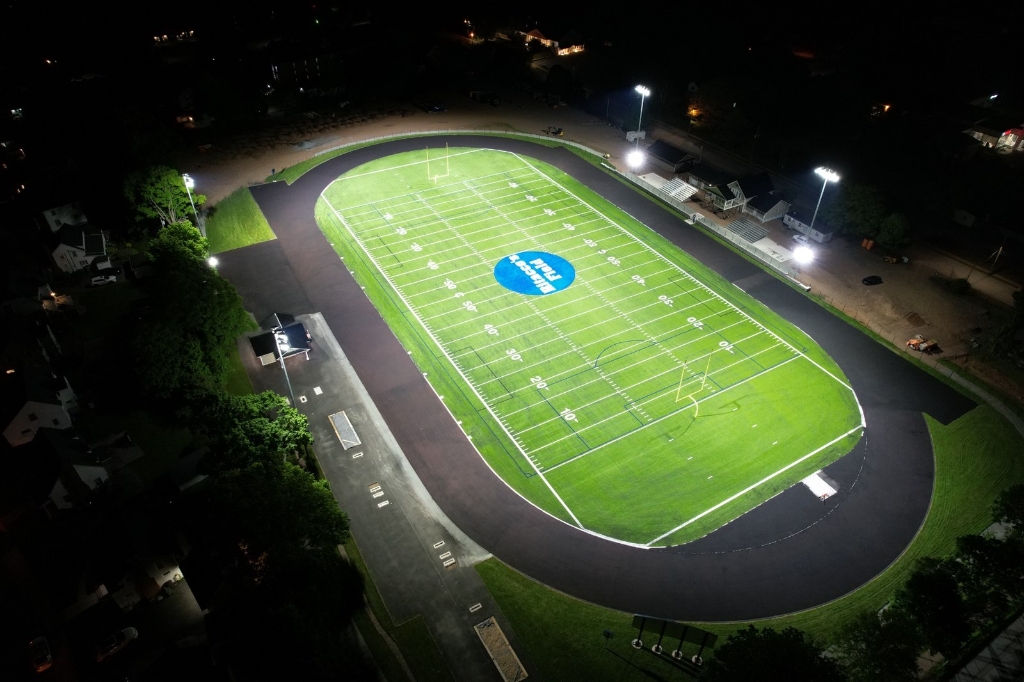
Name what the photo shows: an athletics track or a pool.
athletics track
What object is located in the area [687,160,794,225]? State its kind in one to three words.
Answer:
building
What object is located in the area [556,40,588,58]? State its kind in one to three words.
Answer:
house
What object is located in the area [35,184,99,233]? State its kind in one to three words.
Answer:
house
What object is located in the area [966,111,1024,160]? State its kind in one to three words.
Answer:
building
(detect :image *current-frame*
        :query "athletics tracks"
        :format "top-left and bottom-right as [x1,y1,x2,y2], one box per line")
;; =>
[249,136,981,620]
